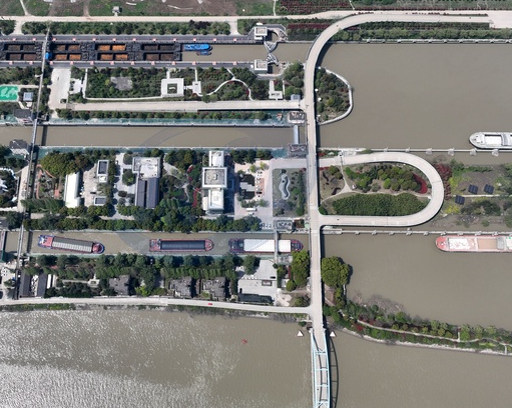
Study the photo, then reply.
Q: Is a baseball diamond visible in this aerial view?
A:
No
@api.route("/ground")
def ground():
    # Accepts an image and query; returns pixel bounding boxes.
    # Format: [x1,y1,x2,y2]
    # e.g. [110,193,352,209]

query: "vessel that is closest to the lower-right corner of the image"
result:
[435,235,512,253]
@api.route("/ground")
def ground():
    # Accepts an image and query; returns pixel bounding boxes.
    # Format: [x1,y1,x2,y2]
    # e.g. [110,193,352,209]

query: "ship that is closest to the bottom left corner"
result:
[38,234,105,253]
